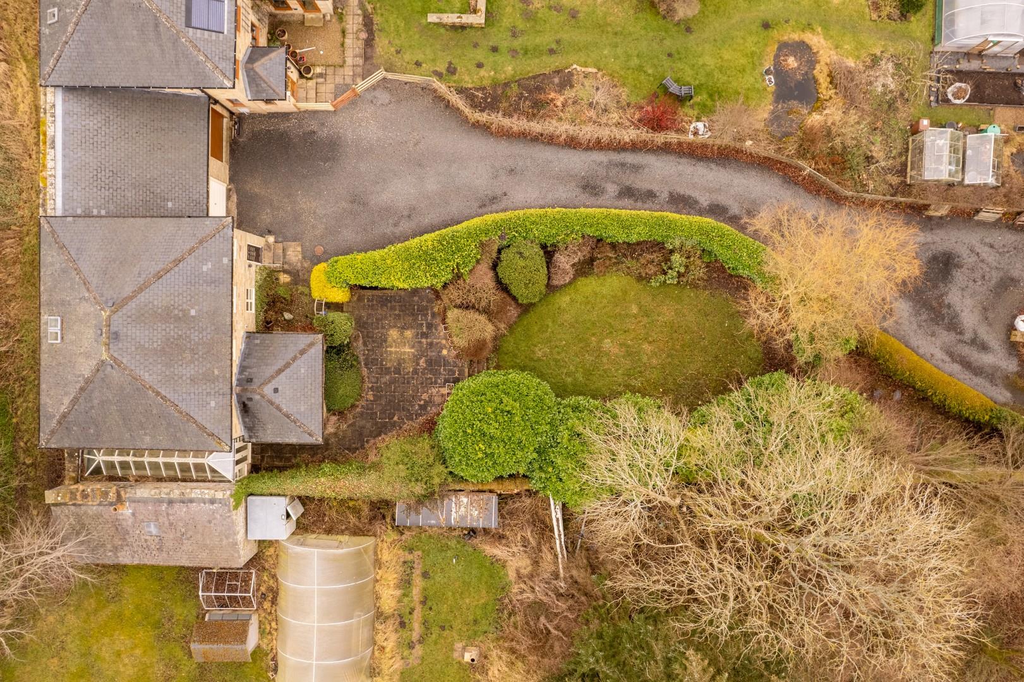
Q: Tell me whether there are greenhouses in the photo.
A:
Yes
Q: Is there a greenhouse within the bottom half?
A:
Yes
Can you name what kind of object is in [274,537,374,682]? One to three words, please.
greenhouse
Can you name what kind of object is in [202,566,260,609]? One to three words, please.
greenhouse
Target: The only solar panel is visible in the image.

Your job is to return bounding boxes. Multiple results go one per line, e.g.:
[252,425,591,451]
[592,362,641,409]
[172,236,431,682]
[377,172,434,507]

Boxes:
[186,0,227,32]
